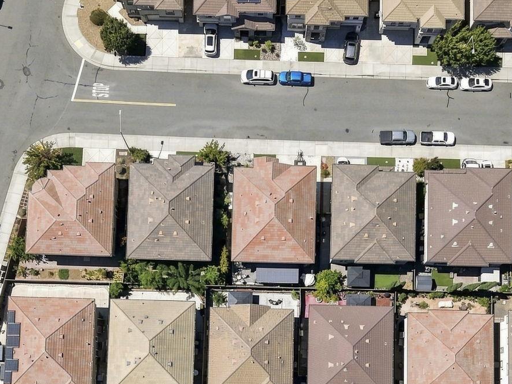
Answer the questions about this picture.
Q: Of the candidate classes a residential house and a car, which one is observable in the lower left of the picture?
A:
residential house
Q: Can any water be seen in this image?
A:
No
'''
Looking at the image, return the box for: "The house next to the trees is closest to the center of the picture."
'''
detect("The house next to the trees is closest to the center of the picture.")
[231,158,318,266]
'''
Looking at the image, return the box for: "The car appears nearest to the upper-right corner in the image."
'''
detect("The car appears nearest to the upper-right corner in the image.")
[460,78,491,93]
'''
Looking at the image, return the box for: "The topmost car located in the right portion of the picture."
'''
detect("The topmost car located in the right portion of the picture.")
[344,34,360,65]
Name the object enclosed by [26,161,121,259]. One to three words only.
house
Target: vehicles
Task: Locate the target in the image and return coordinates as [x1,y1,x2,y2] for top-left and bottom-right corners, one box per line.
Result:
[336,152,351,164]
[418,131,456,146]
[426,75,457,92]
[460,78,491,93]
[378,130,416,146]
[241,70,273,86]
[344,34,360,65]
[479,155,495,167]
[463,153,478,171]
[277,71,315,87]
[203,26,218,57]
